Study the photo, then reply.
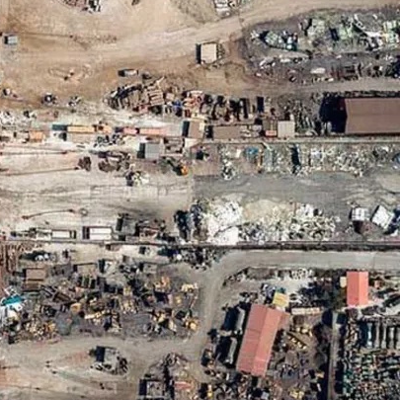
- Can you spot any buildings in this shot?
Yes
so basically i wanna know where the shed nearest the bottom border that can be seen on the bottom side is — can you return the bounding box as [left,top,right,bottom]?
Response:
[145,377,163,397]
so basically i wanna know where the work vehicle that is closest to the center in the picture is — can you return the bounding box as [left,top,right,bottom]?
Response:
[172,158,192,177]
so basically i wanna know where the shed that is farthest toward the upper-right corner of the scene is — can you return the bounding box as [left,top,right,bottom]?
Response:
[334,98,400,135]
